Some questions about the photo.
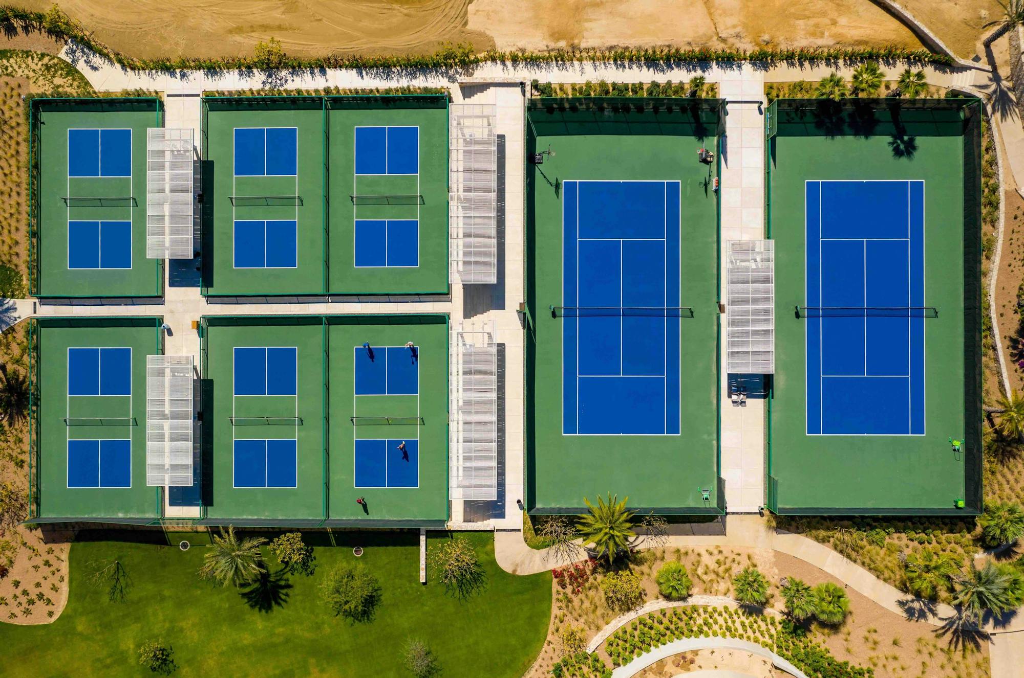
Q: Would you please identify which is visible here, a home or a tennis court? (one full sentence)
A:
This aerial view contains a tennis court.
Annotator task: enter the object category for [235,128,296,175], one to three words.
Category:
sports court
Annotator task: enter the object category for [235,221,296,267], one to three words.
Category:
sports court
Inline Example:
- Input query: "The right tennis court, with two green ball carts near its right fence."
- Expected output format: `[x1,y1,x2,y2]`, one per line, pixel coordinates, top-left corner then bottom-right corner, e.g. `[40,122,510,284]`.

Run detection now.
[765,107,965,509]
